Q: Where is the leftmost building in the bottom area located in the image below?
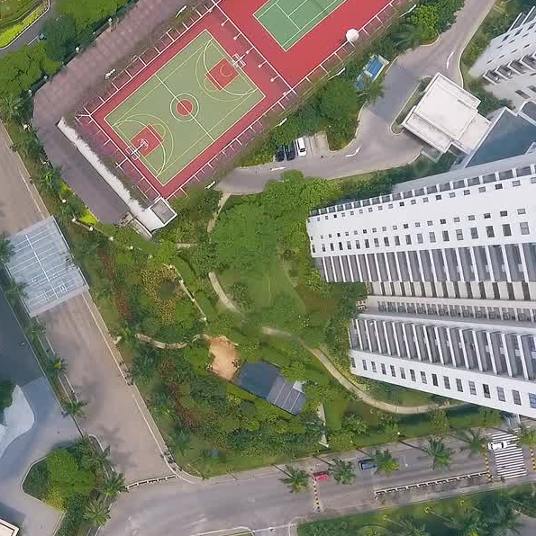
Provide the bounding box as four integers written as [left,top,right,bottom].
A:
[235,360,306,414]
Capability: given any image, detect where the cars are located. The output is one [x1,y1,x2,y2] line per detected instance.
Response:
[358,459,379,471]
[295,137,306,155]
[313,472,328,481]
[284,141,294,159]
[274,144,285,162]
[488,440,507,450]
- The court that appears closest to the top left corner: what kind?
basketball court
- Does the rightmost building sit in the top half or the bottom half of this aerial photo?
top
